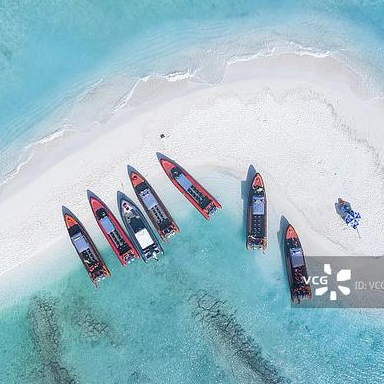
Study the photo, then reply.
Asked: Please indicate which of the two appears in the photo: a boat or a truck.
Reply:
boat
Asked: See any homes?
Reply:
No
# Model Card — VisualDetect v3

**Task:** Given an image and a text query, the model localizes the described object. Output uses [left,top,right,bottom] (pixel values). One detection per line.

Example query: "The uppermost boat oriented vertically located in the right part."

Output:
[247,173,267,249]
